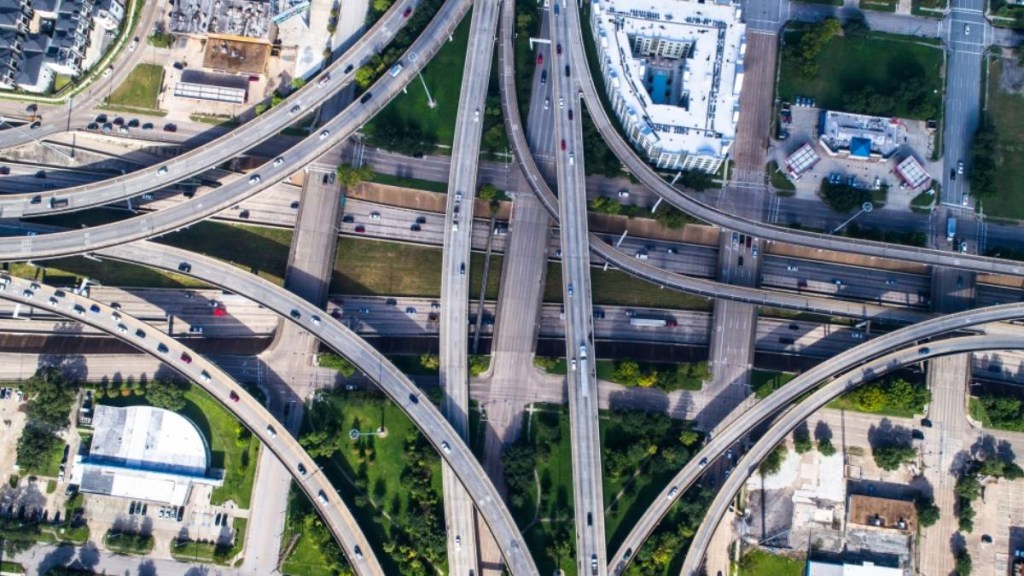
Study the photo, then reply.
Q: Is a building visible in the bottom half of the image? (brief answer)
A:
Yes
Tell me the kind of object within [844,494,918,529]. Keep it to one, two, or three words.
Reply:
building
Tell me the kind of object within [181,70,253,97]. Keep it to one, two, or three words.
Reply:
shed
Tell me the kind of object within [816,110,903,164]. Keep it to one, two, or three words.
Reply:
gas station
